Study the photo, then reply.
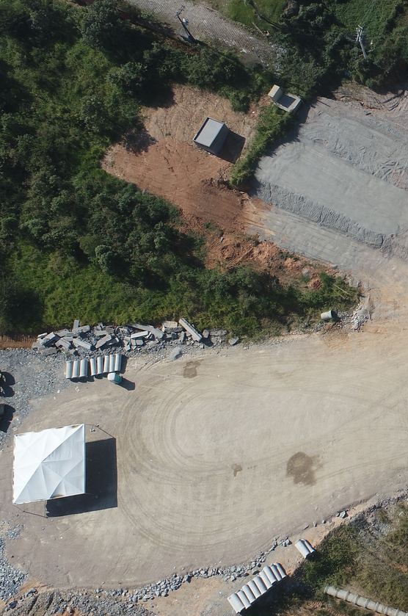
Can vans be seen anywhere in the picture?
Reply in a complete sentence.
No, there is no van in the image.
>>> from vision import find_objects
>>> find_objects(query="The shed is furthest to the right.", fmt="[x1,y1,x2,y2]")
[268,85,300,108]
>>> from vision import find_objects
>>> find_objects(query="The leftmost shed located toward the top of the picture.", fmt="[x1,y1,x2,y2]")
[194,117,233,154]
